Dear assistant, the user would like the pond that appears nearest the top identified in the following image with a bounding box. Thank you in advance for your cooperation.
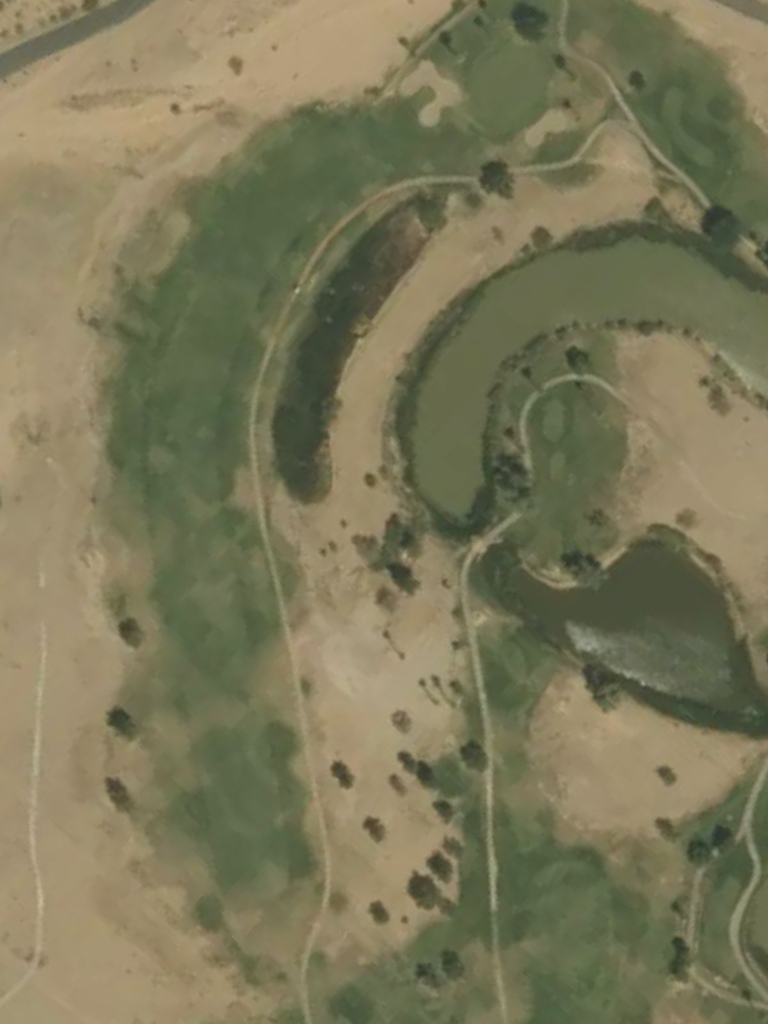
[411,232,768,522]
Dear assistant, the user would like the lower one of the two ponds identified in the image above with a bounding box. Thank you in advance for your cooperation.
[506,539,768,728]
